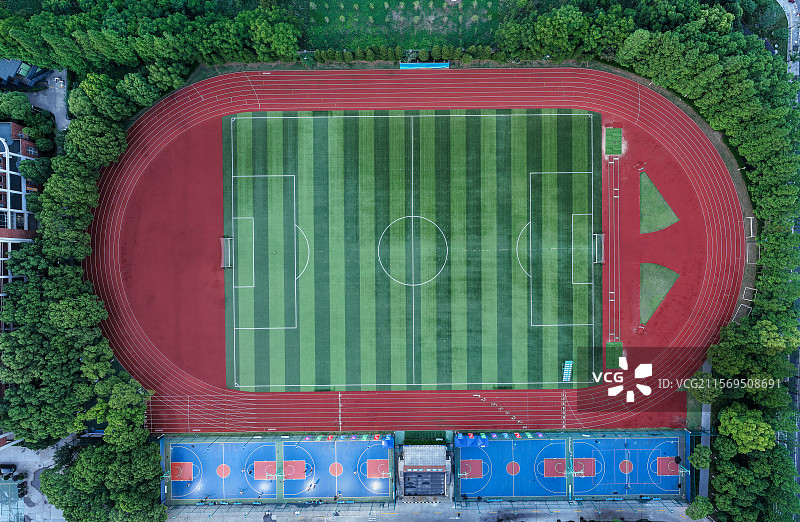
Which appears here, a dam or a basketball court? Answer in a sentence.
Of the two, only a basketball court appears.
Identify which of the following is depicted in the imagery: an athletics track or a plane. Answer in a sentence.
Of the two, only an athletics track appears.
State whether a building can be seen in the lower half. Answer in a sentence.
Yes, there is a building in the lower half.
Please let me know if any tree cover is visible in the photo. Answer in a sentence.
Yes, the picture does contain tree cover.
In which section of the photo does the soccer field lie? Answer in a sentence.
Look in the center portion of the view to spot the soccer field.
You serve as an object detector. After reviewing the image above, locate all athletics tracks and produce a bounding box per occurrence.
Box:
[80,68,745,434]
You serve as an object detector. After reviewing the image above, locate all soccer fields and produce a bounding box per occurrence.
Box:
[221,109,605,392]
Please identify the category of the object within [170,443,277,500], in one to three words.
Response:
basketball court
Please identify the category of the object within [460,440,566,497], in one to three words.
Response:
basketball court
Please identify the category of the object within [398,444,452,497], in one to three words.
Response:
building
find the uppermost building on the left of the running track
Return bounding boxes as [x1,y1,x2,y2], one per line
[0,57,62,93]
